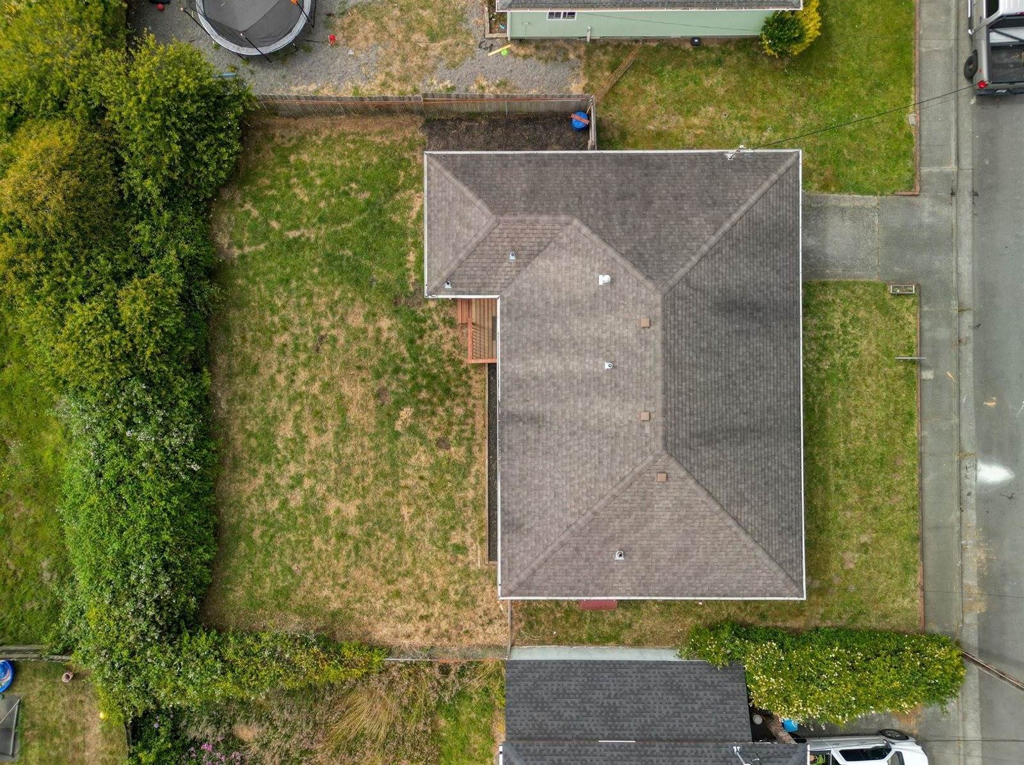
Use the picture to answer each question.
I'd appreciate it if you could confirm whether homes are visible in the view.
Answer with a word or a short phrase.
Yes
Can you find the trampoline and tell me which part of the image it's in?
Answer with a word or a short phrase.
top left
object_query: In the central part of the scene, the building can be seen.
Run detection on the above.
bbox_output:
[423,137,806,600]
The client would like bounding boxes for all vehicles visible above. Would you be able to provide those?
[955,0,1024,100]
[804,728,924,765]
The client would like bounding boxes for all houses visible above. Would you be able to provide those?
[494,0,804,40]
[423,137,806,600]
[497,649,810,765]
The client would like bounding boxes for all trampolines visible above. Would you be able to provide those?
[179,0,319,66]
